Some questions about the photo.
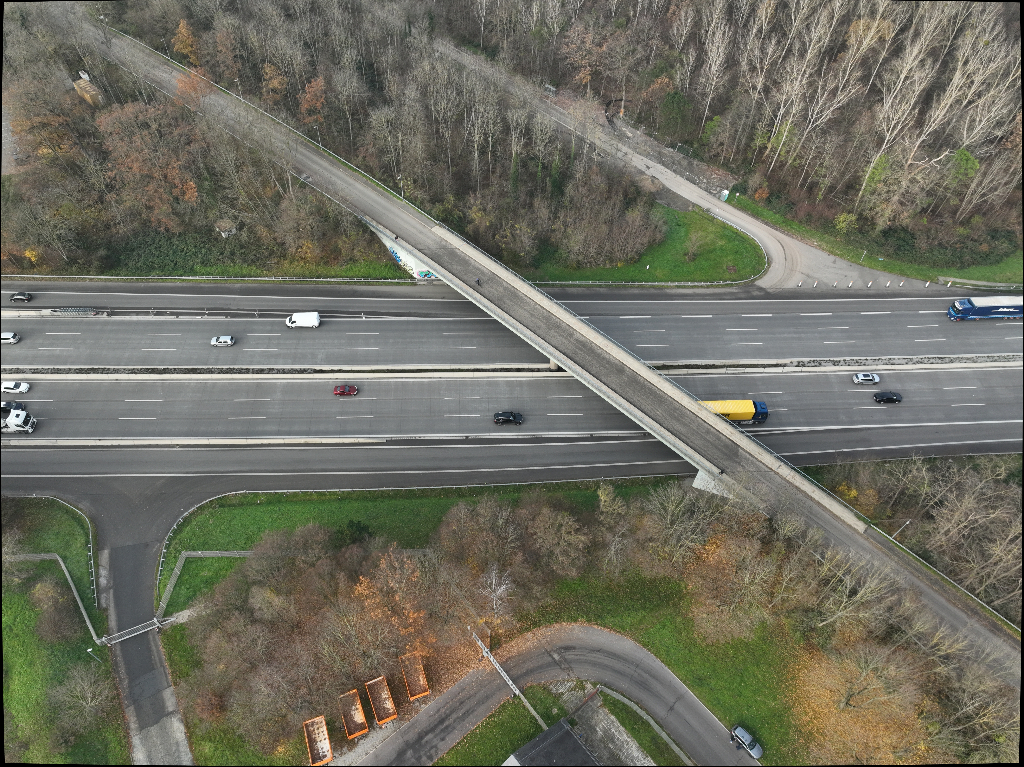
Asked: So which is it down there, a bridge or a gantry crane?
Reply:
bridge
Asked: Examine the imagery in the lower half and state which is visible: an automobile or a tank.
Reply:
automobile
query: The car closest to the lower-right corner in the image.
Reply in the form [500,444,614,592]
[727,720,765,760]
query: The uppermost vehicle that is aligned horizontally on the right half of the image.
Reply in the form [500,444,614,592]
[947,297,1024,323]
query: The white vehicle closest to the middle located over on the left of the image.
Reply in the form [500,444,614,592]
[284,311,320,328]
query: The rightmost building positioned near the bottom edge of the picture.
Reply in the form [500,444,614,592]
[511,716,598,767]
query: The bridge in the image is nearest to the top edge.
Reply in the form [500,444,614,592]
[357,196,877,572]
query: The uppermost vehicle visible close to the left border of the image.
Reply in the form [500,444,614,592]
[6,292,33,304]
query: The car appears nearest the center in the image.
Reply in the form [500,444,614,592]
[493,412,524,426]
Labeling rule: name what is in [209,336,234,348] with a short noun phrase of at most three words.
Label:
vehicle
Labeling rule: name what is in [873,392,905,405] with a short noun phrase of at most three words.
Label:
vehicle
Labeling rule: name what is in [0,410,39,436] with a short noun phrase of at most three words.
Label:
truck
